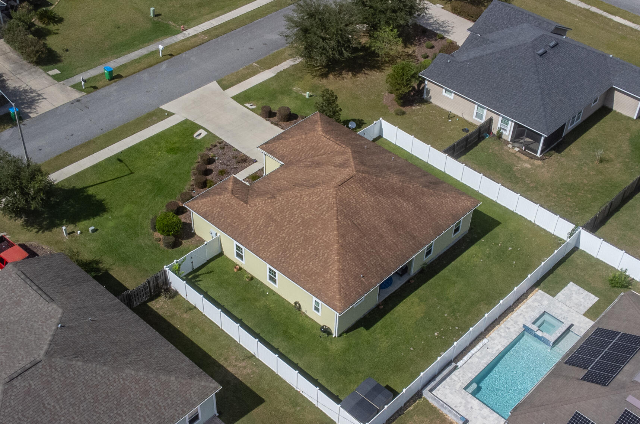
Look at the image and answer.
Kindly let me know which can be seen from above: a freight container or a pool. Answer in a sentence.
Of the two, only a pool appears.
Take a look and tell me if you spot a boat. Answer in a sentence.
No, there is no boat in the image.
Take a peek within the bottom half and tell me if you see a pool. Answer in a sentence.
Yes, looking within the bottom half, one can make out a pool.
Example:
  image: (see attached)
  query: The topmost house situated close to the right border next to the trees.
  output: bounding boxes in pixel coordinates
[418,0,640,160]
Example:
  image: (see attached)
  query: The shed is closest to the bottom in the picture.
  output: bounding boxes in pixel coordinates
[341,378,393,424]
